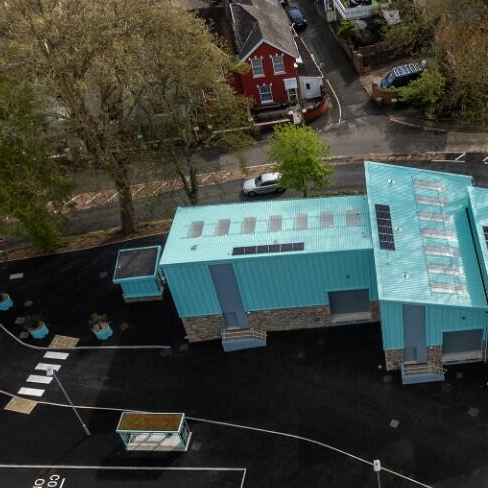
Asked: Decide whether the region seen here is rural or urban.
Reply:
urban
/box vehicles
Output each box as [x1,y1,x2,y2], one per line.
[380,60,431,93]
[240,171,287,198]
[281,0,310,24]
